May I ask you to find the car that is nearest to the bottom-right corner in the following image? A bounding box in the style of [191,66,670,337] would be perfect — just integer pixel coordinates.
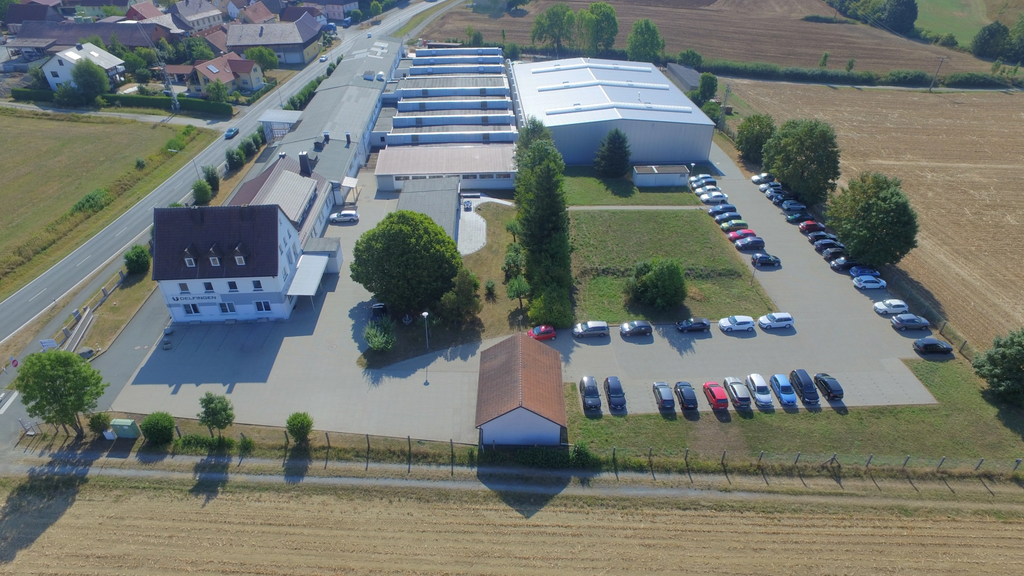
[909,337,951,354]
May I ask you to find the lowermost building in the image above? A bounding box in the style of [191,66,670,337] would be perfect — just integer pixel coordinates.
[475,320,574,452]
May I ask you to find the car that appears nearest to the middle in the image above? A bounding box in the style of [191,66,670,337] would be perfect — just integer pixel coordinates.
[526,323,557,340]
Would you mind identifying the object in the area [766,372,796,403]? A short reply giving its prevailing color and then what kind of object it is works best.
blue car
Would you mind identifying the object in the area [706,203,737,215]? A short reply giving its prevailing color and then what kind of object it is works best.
blue vehicle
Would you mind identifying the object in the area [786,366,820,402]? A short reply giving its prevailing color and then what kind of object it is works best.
blue car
